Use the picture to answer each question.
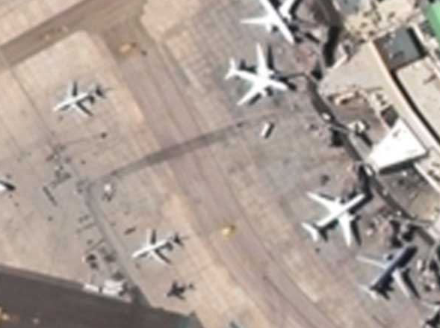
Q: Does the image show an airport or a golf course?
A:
airport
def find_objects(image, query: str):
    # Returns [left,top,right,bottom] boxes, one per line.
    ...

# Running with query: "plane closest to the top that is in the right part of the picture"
[239,0,292,43]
